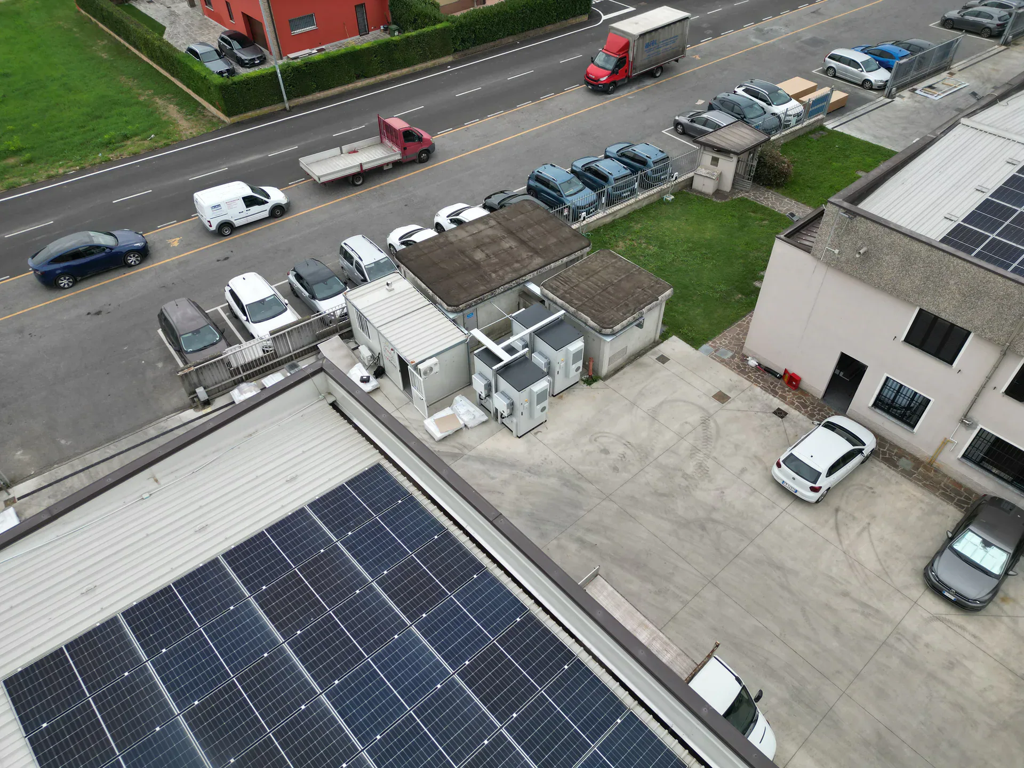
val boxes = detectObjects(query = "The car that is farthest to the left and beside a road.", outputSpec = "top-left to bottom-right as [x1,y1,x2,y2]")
[24,230,145,291]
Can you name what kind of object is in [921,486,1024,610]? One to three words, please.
car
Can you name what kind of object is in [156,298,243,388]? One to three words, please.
car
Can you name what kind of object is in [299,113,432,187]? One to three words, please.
truck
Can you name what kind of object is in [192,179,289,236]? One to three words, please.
van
